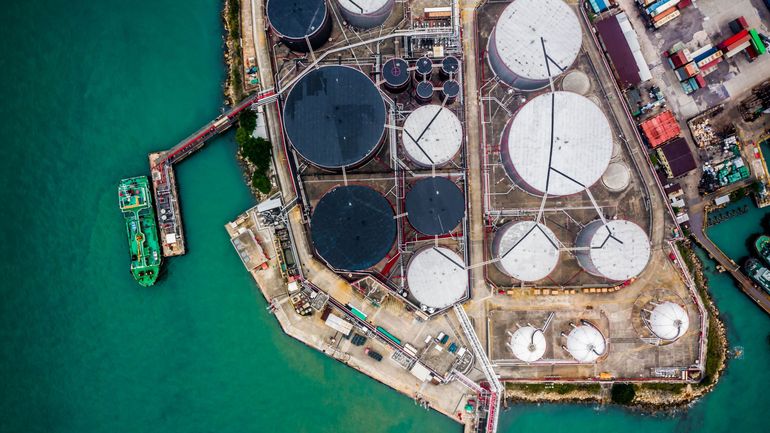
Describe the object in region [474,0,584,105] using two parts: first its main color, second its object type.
white storage tank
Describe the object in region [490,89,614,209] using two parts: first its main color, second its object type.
white storage tank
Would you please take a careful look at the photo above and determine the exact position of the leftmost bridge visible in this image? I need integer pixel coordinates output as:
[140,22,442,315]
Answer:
[153,101,277,167]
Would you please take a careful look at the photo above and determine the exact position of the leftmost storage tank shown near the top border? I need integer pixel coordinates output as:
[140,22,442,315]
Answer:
[263,0,338,60]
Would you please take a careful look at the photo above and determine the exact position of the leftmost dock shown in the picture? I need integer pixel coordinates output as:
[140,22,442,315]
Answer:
[147,151,186,258]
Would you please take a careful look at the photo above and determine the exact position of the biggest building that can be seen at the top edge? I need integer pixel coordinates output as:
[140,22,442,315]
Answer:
[594,15,641,91]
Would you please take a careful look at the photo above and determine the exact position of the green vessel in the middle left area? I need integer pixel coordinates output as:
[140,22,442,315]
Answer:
[116,160,166,288]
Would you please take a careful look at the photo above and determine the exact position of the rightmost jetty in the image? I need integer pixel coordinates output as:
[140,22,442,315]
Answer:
[696,241,770,315]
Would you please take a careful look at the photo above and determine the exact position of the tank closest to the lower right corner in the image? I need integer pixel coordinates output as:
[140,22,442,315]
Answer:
[566,207,652,288]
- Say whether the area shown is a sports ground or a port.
port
